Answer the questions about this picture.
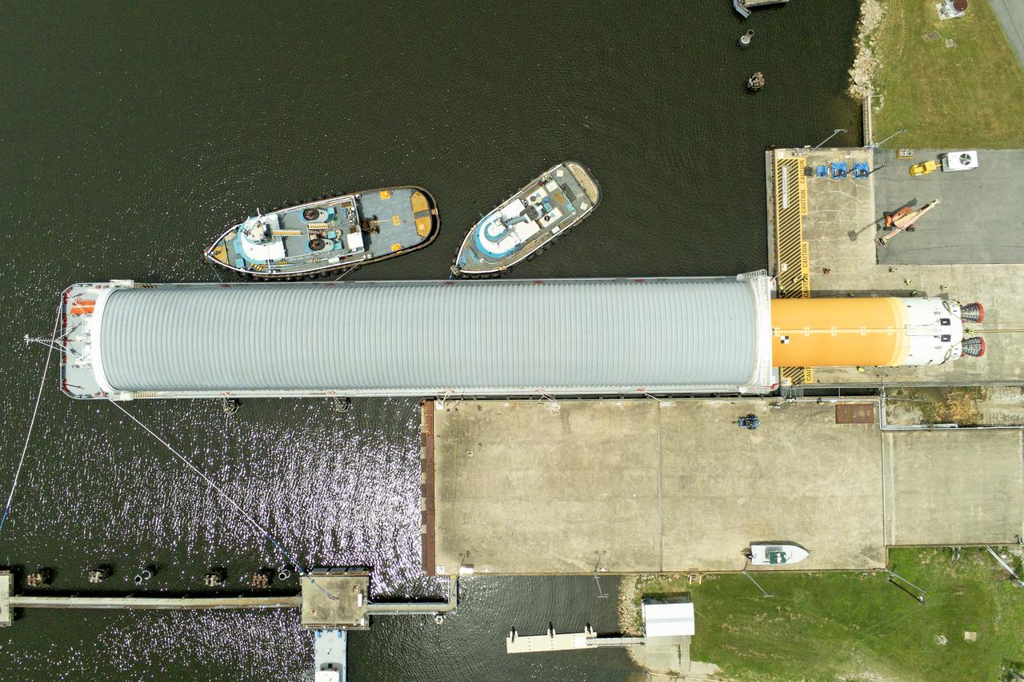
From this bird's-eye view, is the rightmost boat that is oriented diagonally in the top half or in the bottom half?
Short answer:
top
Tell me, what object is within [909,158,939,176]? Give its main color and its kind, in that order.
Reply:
yellow work vehicle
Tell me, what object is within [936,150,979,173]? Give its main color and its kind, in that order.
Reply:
white trailer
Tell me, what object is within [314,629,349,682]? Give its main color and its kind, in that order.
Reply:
white boat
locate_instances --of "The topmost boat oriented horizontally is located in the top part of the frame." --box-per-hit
[202,184,442,280]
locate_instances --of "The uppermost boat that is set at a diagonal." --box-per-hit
[449,159,603,279]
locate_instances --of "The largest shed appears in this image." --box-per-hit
[644,595,698,643]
